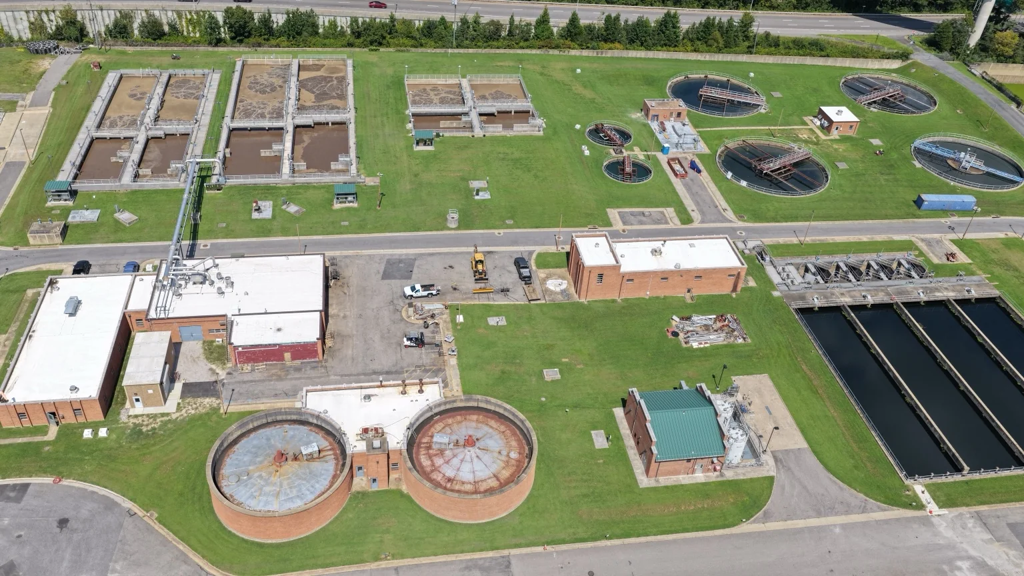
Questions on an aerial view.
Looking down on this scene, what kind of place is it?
industrial area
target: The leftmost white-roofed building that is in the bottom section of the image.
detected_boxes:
[0,273,135,427]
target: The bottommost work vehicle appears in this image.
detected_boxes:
[406,330,434,347]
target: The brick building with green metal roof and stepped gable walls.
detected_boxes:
[618,376,732,478]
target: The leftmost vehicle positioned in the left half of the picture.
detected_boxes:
[69,259,90,276]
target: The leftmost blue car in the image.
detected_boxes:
[121,259,138,273]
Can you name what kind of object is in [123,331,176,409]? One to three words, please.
building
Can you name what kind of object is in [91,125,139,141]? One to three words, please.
bridge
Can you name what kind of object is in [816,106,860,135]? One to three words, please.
shed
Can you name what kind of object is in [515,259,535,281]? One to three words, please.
vehicle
